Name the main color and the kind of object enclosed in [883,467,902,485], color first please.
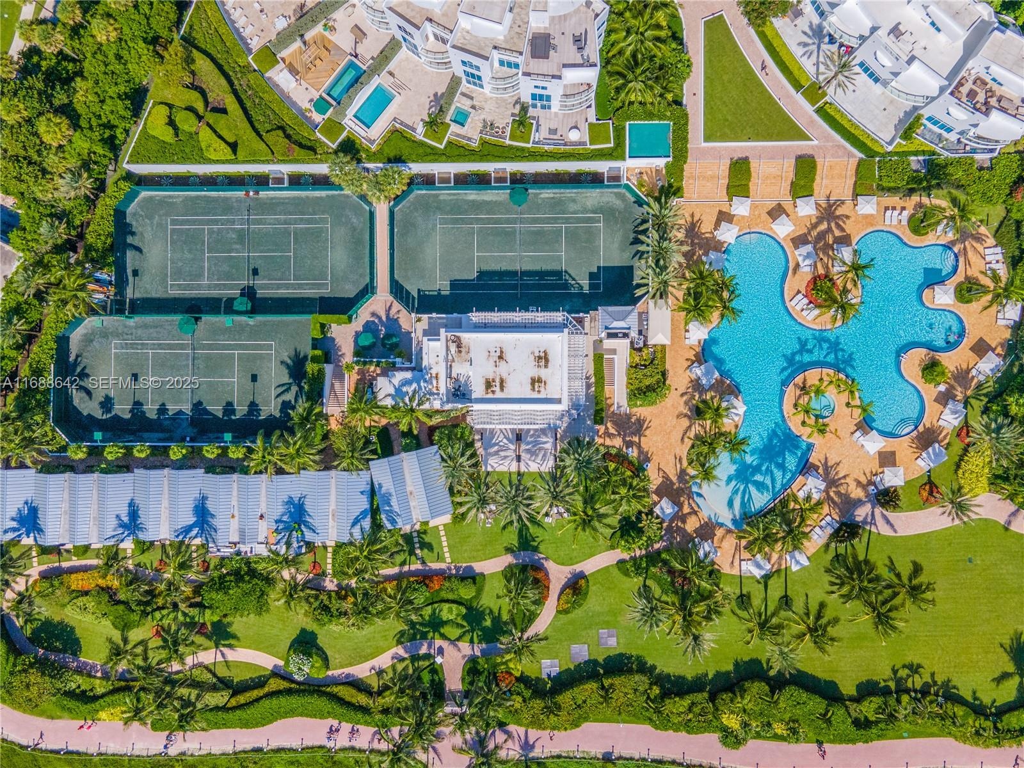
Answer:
white umbrella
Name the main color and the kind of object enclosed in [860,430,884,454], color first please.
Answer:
white umbrella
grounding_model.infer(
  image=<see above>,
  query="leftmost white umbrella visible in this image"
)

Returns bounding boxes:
[274,67,299,93]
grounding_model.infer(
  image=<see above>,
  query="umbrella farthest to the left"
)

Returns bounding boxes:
[179,316,197,334]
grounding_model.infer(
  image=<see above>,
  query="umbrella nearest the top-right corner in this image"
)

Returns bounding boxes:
[856,196,875,213]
